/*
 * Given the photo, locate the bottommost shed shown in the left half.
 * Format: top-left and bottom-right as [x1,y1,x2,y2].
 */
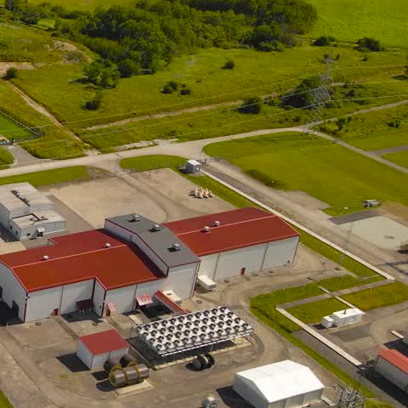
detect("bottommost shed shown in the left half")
[74,328,132,370]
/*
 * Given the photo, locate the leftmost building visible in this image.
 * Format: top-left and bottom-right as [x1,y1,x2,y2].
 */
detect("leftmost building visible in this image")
[0,182,68,240]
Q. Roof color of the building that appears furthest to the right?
red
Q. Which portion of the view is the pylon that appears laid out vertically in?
top right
